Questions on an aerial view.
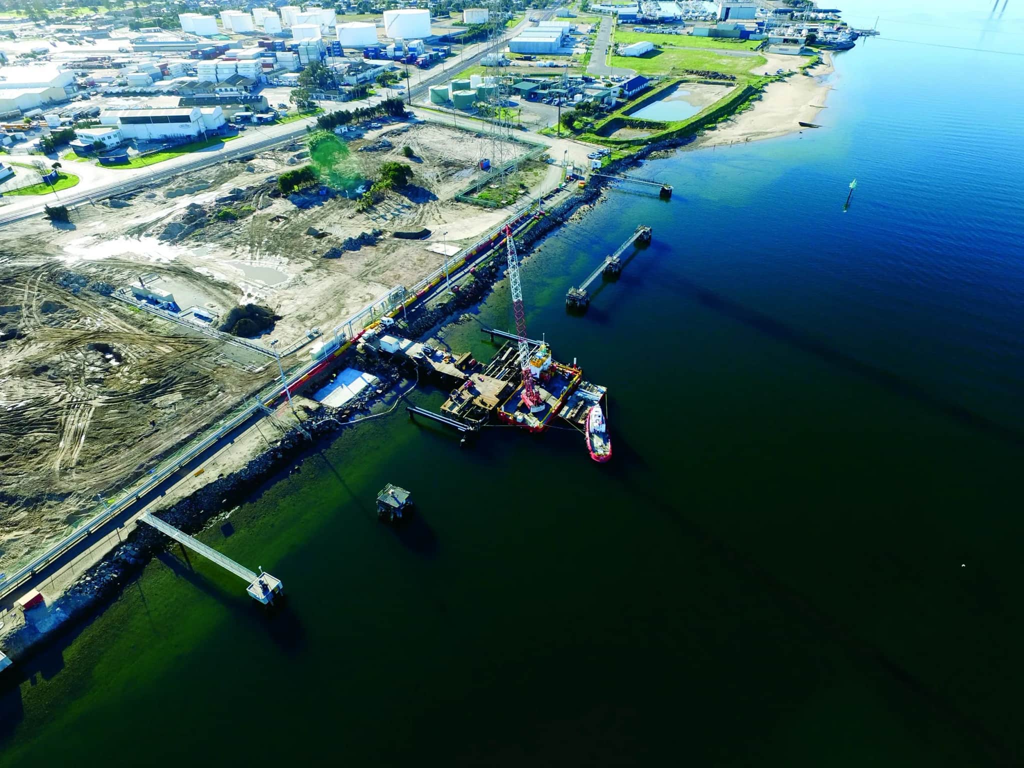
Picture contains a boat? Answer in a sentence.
Yes, the image includes a boat.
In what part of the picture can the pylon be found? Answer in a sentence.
The pylon sits in the top section of the image.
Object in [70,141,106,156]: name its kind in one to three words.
building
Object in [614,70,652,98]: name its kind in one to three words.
house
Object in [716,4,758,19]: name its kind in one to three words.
shed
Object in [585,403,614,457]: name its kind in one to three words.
boat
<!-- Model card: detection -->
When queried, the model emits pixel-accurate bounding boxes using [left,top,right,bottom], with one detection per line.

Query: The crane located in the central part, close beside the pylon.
[505,229,546,404]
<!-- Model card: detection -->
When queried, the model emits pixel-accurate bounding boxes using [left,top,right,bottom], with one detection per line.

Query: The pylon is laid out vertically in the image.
[467,0,523,201]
